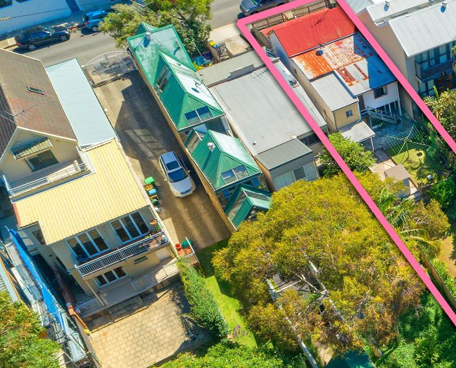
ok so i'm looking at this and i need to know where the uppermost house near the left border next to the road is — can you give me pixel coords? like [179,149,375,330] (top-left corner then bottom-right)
[0,51,176,290]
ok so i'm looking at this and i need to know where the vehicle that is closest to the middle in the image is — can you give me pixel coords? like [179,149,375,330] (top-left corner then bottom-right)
[153,148,195,196]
